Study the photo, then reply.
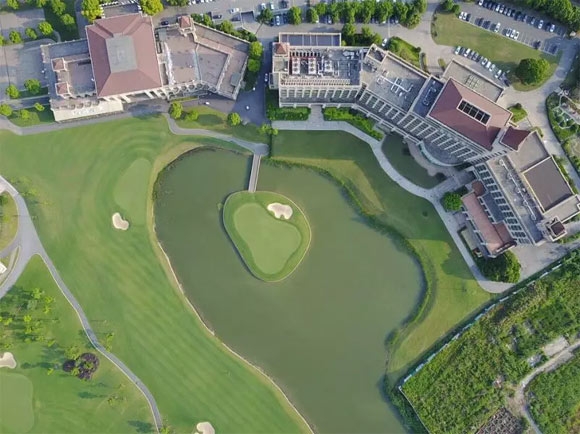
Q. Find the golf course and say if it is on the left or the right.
left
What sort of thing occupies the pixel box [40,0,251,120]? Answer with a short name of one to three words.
building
